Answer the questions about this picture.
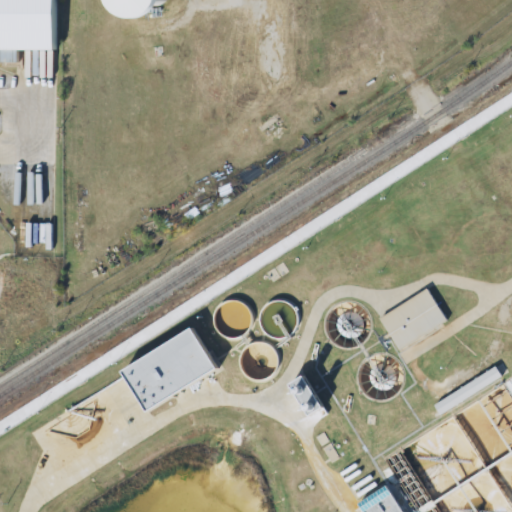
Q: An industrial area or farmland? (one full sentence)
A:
The area seen from above is an industrial area.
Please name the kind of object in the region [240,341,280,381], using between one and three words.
storage tank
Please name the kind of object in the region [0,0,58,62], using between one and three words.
building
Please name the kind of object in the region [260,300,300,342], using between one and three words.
storage tank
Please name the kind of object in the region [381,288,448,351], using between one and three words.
shed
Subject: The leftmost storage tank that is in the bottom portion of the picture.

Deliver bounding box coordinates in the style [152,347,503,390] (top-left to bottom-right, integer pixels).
[214,300,254,340]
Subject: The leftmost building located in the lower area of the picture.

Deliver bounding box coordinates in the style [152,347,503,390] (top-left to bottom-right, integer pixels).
[120,328,218,410]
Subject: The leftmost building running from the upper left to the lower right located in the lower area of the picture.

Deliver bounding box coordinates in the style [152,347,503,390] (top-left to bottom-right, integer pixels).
[289,375,330,416]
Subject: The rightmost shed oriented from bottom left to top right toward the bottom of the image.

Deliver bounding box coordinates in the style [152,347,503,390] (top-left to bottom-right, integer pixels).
[434,368,502,420]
